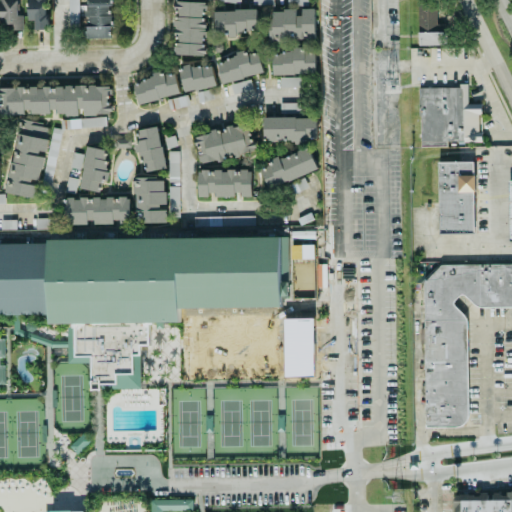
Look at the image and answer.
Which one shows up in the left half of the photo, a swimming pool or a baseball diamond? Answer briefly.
swimming pool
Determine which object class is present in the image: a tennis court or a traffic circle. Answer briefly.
tennis court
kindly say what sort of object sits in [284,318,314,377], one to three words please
shed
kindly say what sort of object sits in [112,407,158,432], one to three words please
swimming pool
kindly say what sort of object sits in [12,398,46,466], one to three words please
tennis court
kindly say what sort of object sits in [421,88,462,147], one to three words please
building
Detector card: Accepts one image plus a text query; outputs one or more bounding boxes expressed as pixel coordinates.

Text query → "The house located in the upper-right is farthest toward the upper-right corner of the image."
[419,6,444,46]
